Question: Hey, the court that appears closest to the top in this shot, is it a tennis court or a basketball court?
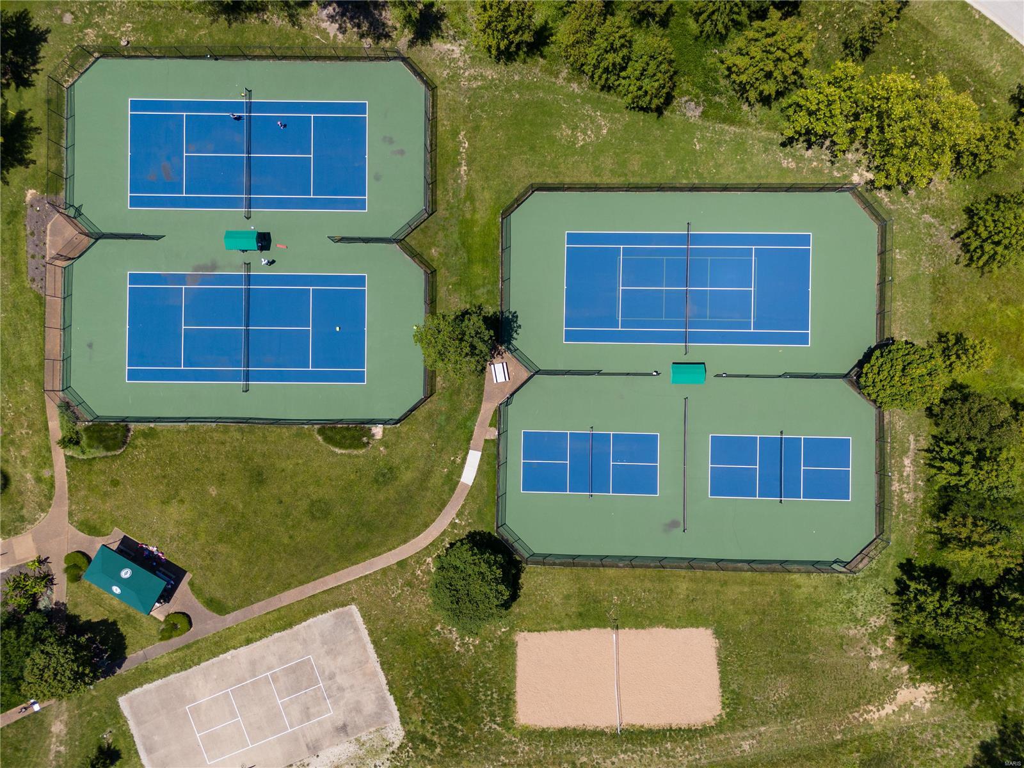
tennis court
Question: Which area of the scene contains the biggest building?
bottom left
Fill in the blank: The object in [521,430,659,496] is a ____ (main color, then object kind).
blue sports court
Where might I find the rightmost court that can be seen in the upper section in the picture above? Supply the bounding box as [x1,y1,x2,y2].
[564,231,812,346]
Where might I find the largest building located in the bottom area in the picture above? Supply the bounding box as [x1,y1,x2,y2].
[83,542,174,615]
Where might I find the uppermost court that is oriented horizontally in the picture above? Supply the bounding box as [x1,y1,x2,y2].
[128,99,368,212]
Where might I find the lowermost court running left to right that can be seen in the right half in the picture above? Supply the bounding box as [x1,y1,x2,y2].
[516,627,722,728]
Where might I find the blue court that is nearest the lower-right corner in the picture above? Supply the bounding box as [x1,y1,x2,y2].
[709,435,851,501]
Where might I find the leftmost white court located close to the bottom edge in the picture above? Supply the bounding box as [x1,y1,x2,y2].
[121,608,395,768]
